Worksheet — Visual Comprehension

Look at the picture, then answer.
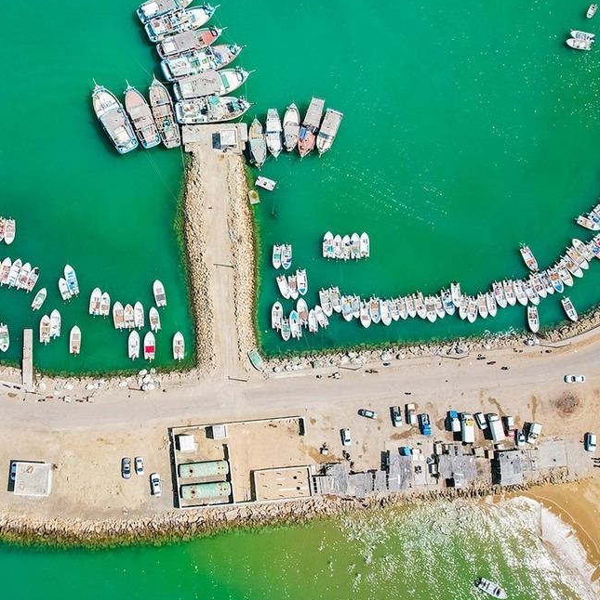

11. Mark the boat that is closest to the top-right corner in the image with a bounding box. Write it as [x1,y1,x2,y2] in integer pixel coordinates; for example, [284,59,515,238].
[587,1,599,19]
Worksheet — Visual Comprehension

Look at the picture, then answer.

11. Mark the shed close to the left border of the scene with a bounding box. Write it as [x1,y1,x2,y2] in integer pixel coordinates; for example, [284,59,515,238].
[14,461,52,496]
